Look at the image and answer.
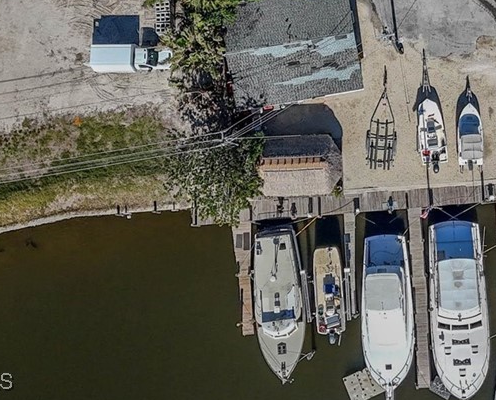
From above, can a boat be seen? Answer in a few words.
Yes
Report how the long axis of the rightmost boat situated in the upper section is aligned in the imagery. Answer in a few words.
up and down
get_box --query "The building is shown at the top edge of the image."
[222,0,365,113]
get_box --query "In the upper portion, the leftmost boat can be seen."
[416,99,446,177]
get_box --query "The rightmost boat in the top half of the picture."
[457,101,483,170]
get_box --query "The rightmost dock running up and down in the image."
[405,210,433,388]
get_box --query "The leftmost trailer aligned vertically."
[367,68,397,169]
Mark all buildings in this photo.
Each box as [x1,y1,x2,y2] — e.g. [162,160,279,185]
[222,0,365,113]
[253,134,344,198]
